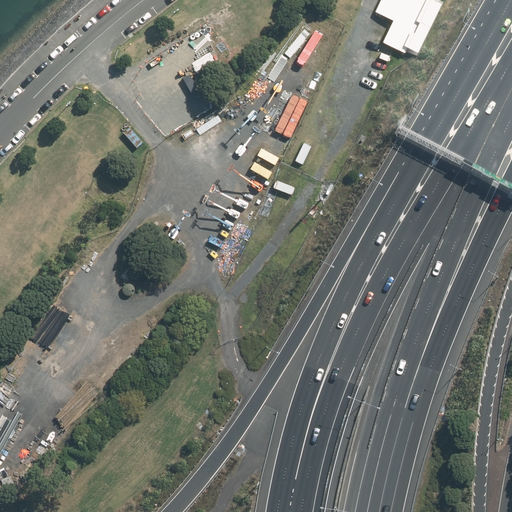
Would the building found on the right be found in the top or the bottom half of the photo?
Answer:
top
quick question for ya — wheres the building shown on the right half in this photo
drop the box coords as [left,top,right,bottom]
[375,0,444,54]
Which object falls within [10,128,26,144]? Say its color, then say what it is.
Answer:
white vehicle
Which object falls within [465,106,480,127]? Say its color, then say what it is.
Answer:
white vehicle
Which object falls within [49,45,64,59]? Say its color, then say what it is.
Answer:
white car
